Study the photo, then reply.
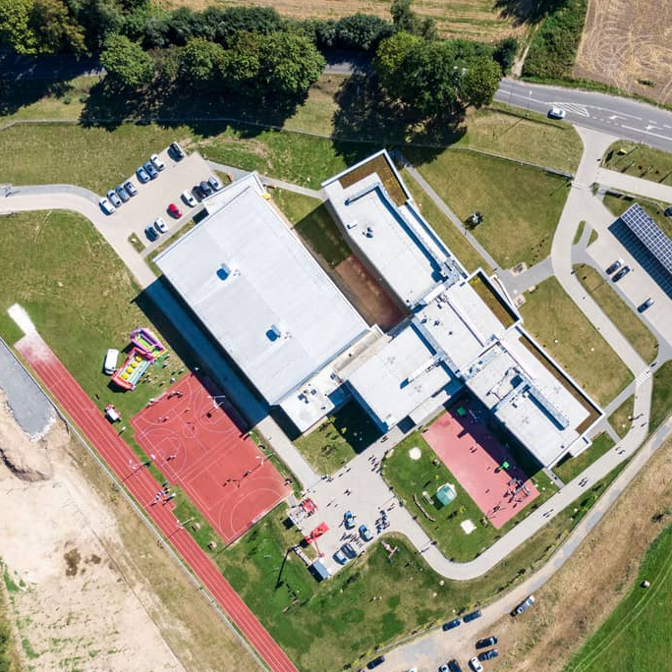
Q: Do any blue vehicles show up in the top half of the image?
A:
Yes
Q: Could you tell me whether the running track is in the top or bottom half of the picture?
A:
bottom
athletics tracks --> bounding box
[15,333,299,672]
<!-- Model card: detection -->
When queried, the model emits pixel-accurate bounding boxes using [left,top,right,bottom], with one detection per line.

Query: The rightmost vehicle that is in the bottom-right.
[512,597,533,616]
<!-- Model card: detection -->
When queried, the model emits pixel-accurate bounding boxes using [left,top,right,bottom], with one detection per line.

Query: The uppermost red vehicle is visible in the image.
[167,203,183,219]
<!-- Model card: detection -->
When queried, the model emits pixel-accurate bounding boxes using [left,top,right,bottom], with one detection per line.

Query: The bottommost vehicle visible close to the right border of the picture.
[638,298,654,312]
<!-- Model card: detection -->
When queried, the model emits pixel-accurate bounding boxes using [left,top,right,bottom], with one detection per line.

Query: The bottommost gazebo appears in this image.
[437,484,456,505]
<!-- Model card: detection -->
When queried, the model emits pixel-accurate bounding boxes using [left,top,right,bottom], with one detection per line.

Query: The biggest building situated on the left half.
[153,171,373,405]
